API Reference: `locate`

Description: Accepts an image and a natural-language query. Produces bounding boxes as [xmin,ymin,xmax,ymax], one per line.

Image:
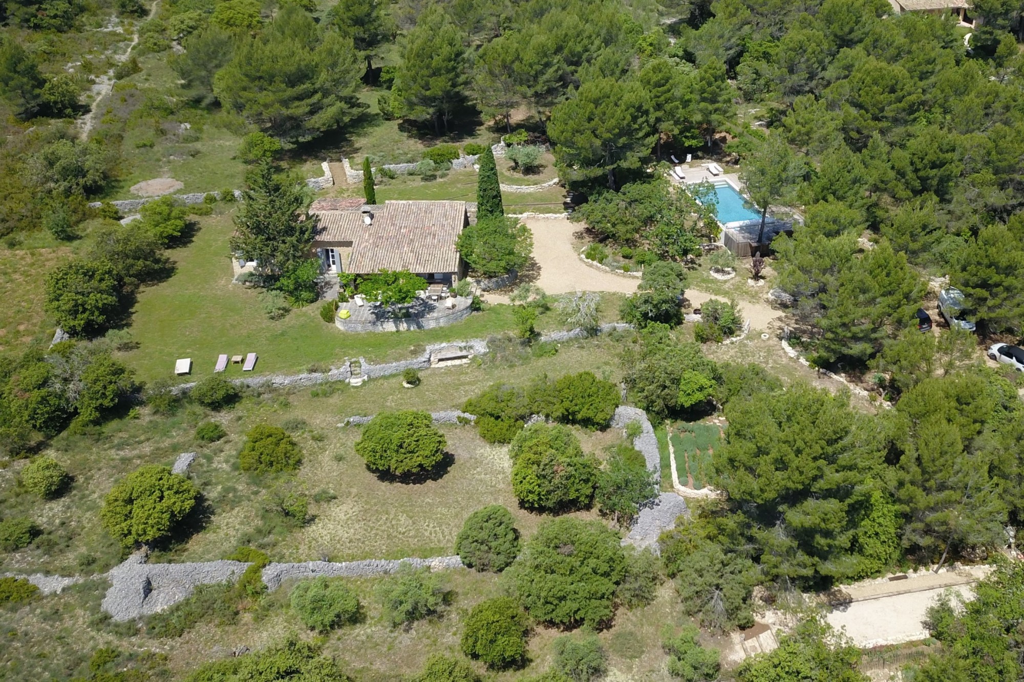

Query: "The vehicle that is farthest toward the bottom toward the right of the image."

[986,341,1024,368]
